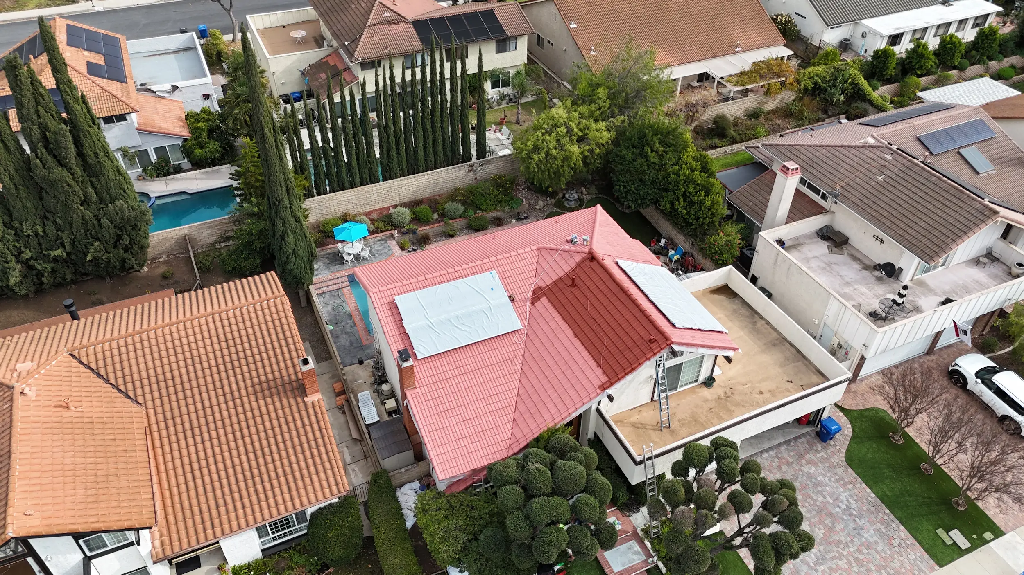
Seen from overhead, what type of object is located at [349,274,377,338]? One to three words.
swimming pool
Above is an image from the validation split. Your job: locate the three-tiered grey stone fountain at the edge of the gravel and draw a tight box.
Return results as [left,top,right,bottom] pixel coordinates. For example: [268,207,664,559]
[559,191,582,211]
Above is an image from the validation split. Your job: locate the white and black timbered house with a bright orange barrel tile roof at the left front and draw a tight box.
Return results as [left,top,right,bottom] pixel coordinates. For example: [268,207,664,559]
[0,269,349,575]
